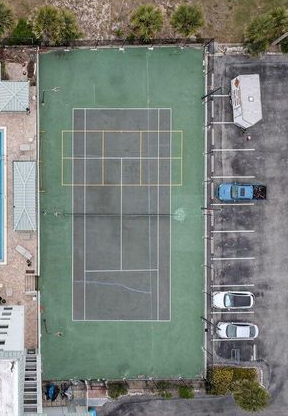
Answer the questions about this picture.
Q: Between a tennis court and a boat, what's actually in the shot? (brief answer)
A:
tennis court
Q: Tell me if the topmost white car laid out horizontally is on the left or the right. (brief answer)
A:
right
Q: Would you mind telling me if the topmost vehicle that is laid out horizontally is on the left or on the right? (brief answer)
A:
right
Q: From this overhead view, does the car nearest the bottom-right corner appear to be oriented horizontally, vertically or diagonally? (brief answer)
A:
horizontally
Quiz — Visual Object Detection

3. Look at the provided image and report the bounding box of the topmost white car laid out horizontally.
[212,290,254,310]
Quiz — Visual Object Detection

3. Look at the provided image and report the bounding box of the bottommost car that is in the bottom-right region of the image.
[216,320,258,340]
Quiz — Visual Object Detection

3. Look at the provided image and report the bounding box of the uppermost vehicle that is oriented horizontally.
[216,182,268,202]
